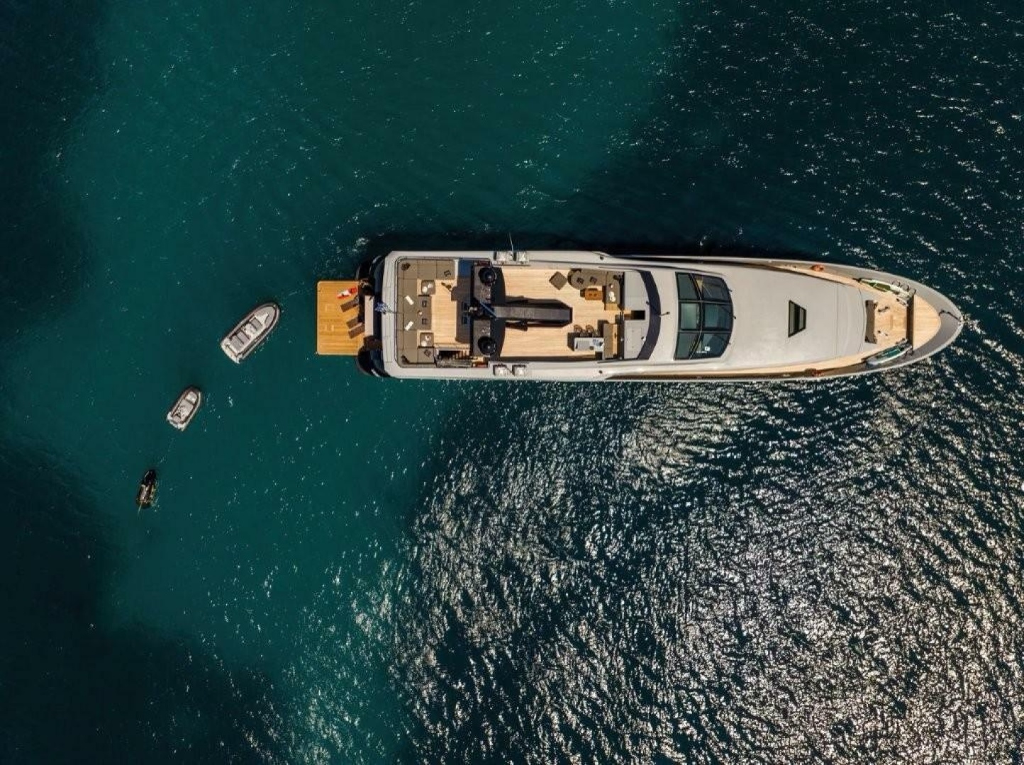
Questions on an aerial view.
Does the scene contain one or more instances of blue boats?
No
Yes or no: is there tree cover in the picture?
No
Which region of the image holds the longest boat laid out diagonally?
left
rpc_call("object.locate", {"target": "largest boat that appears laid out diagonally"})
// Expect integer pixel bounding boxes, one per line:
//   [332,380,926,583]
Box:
[222,302,281,362]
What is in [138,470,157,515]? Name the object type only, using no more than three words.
boat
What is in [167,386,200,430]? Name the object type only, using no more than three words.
boat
